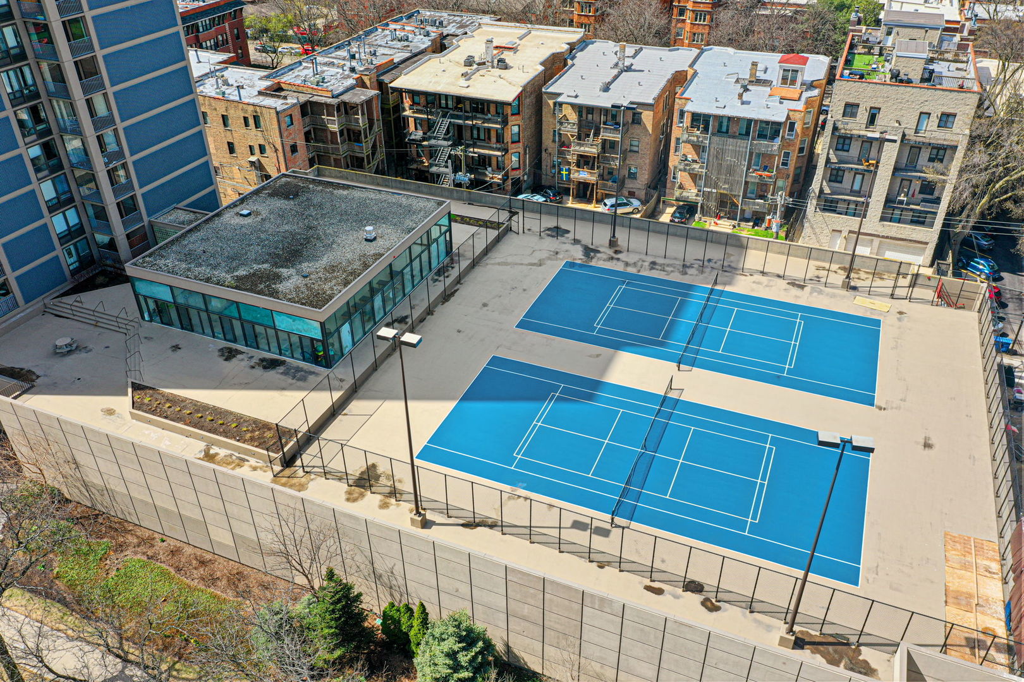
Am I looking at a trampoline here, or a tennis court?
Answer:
tennis court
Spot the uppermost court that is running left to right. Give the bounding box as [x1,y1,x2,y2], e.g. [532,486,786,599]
[514,260,881,407]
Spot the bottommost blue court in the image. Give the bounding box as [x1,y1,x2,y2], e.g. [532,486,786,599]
[414,356,870,587]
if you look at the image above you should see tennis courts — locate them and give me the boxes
[514,260,881,407]
[414,356,870,587]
